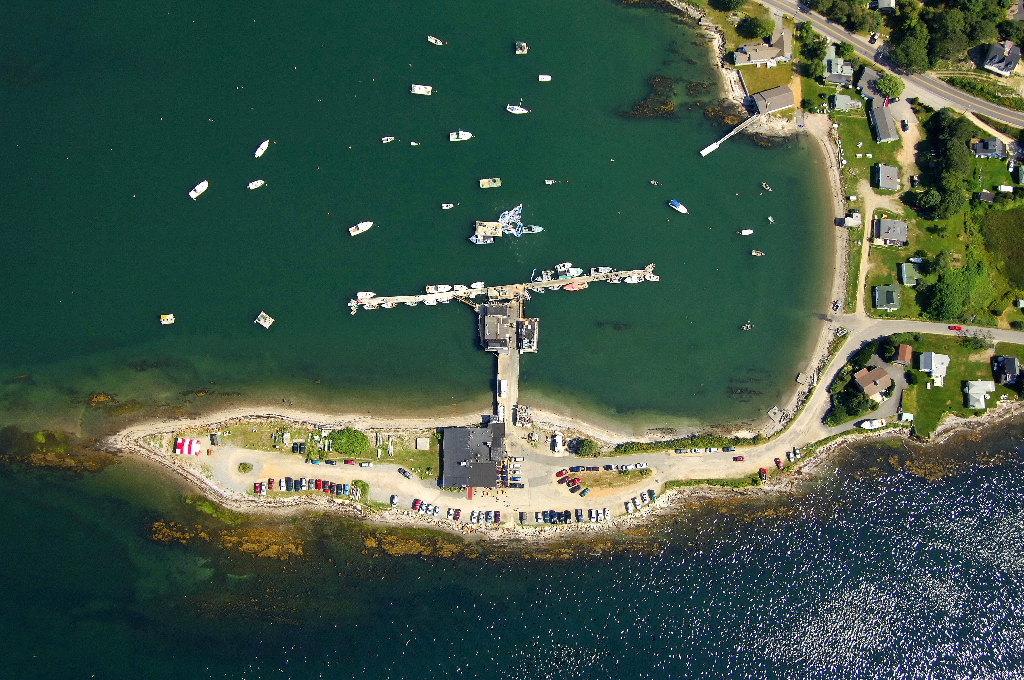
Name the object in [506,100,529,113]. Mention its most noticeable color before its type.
white boat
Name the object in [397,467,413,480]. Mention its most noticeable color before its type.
gray vehicle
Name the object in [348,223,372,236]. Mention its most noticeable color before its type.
white boat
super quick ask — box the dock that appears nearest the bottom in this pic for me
[497,354,520,436]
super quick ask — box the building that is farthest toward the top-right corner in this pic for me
[983,41,1019,77]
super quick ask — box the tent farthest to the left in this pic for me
[176,438,202,456]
